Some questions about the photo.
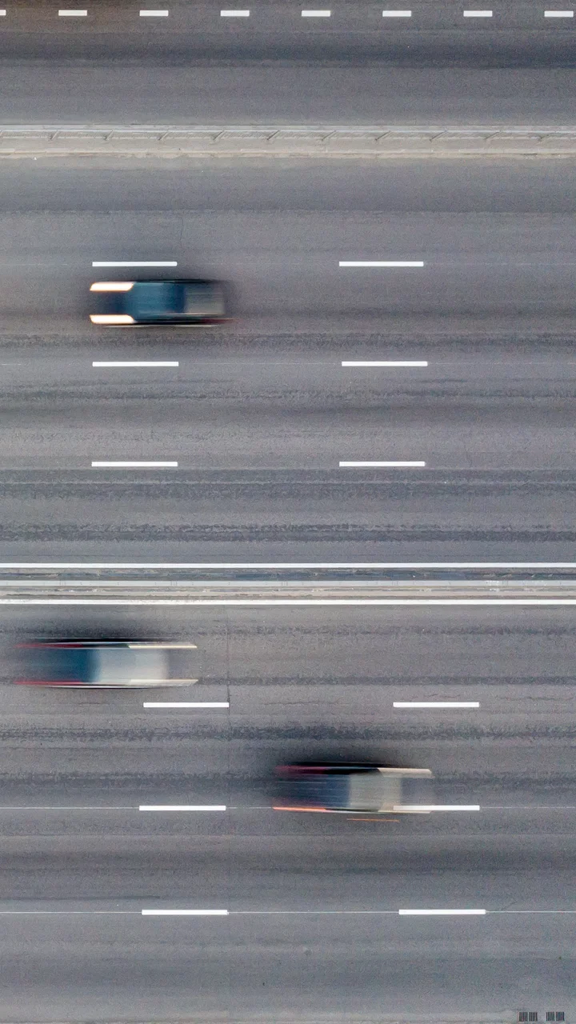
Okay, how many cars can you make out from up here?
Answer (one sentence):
Looking from above, you can make out 3 cars.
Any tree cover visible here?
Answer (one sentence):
No, the scene doesn't show any tree cover.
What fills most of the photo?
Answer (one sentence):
The scene is dominated by paved ground.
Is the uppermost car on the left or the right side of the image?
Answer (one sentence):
You can find the uppermost car on the left side of the picture.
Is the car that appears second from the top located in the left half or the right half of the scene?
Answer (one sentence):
It is on the left.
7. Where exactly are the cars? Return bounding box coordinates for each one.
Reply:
[93,272,225,328]
[36,636,179,693]
[278,759,415,817]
